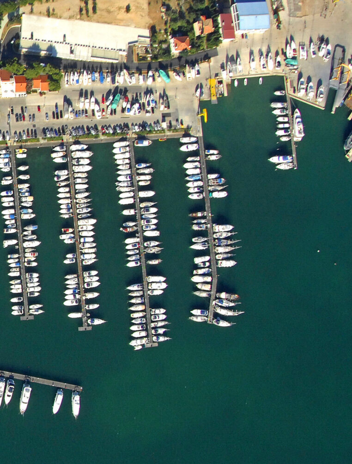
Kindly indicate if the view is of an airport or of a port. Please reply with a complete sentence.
The area seen from above is a port.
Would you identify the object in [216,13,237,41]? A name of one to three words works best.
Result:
shed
